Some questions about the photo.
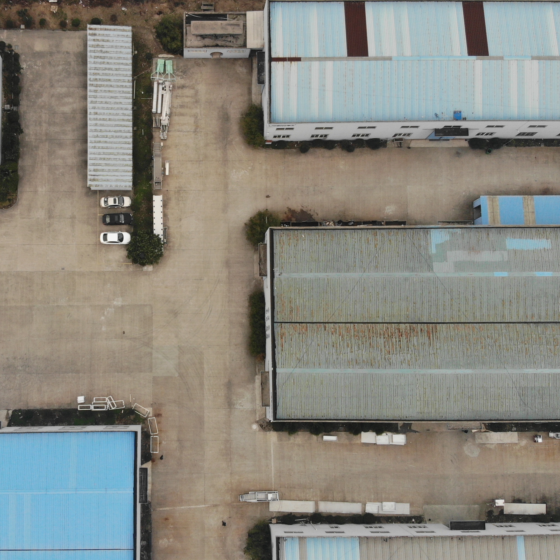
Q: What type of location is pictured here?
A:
industrial area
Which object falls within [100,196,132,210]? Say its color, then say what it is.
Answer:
white car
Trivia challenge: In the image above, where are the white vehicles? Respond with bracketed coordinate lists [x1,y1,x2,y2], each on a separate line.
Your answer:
[100,231,130,245]
[100,196,132,210]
